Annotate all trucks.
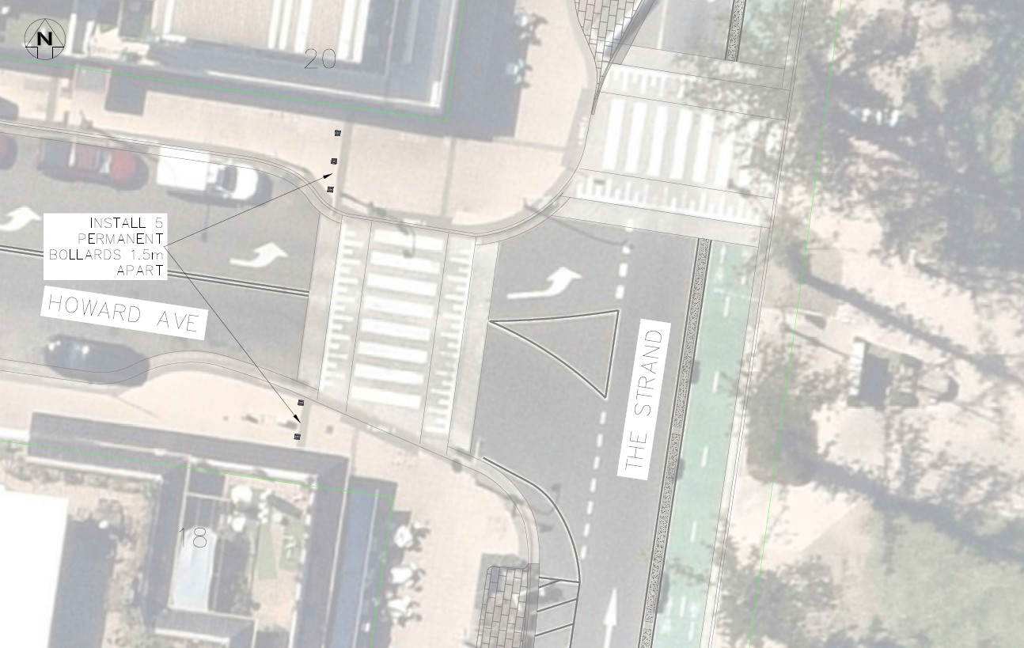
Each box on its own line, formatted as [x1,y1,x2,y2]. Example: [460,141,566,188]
[153,146,260,196]
[36,134,137,183]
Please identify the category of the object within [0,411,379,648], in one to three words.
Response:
building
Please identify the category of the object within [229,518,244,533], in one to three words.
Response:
umbrella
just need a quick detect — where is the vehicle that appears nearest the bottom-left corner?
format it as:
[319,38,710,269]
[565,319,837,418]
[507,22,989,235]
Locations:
[43,334,134,380]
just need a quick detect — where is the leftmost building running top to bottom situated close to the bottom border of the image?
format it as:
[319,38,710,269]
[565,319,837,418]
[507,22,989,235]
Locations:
[0,489,71,648]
